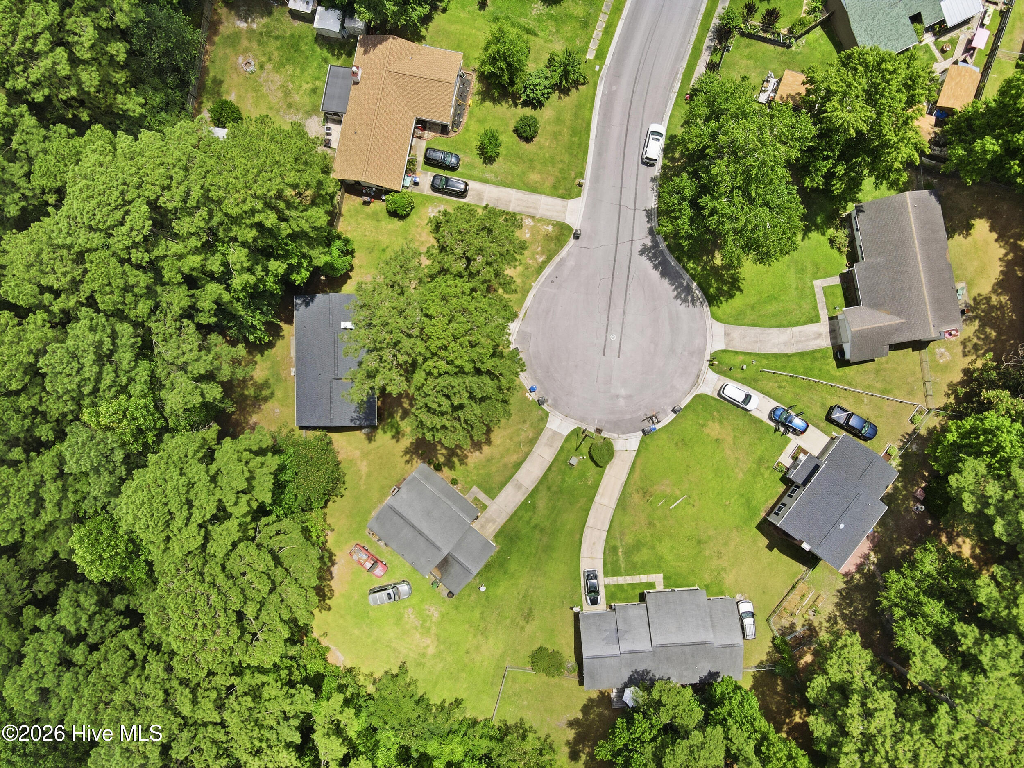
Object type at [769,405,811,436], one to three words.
car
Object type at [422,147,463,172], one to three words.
car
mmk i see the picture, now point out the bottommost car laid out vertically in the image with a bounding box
[737,598,759,640]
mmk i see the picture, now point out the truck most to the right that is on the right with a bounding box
[823,403,876,441]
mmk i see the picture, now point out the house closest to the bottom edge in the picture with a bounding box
[579,584,743,690]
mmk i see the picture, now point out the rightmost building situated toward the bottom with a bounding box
[769,433,899,571]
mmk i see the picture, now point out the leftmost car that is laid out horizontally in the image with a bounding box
[369,580,412,605]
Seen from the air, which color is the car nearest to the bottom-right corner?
white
